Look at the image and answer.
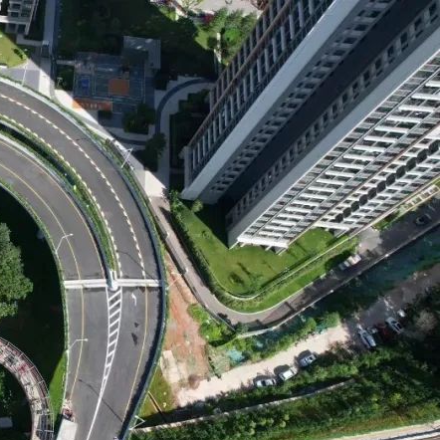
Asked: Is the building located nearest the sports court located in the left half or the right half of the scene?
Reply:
left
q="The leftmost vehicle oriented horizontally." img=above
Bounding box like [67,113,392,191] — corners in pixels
[254,375,278,387]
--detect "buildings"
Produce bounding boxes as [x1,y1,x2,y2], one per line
[126,27,165,63]
[0,0,39,27]
[187,0,440,252]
